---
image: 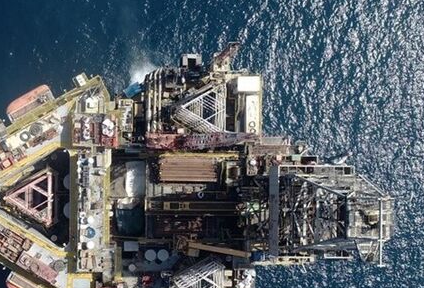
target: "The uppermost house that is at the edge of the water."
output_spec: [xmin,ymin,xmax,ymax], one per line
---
[177,55,201,74]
